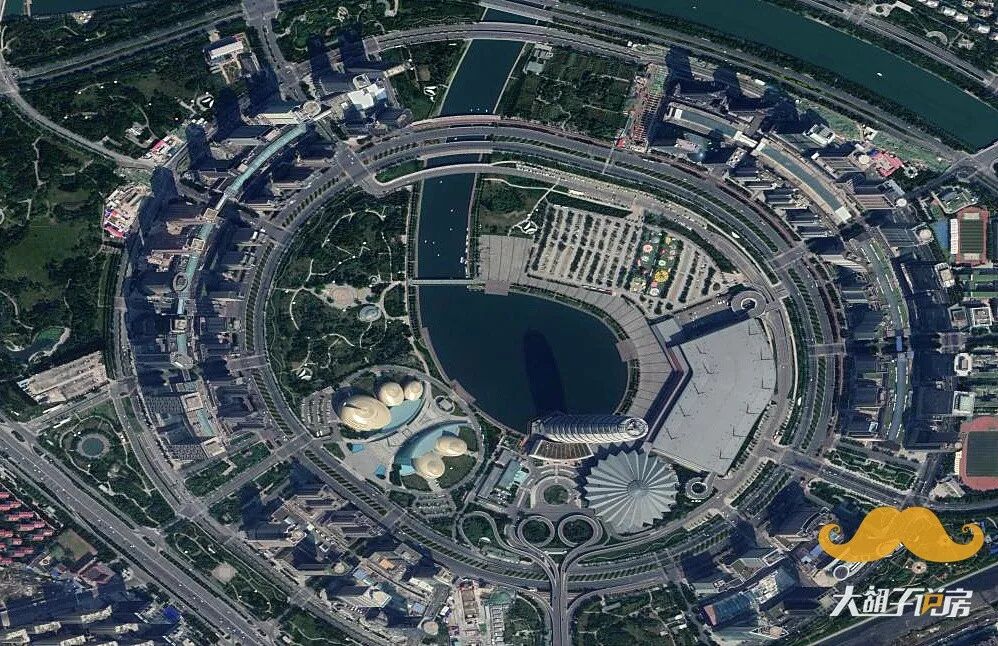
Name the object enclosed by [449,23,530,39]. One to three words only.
bridge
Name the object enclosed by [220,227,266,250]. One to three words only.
building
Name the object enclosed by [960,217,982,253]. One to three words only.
sports field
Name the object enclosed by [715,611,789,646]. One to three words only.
building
